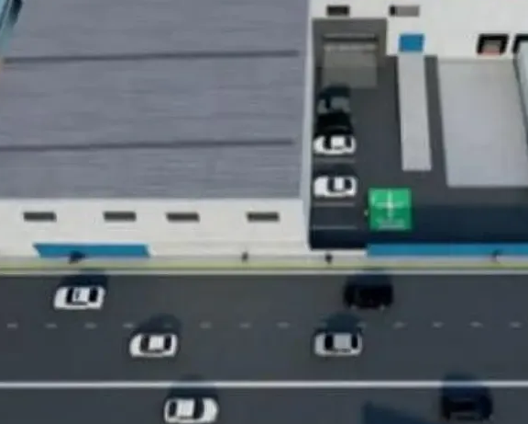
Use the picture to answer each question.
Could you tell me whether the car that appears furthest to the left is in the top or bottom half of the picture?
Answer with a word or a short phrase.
bottom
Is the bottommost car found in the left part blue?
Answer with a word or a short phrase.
No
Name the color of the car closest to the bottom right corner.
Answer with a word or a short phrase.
black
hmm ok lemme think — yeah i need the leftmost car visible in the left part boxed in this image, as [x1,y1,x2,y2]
[55,282,105,310]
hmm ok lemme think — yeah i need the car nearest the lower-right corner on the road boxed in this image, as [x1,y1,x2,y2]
[442,388,495,420]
